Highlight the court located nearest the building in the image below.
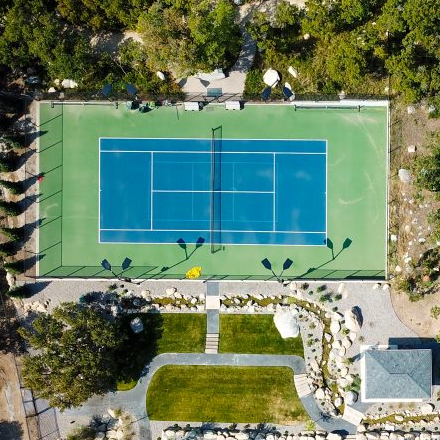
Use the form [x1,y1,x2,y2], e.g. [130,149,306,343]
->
[34,99,390,282]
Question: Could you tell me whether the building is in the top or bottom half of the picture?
bottom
